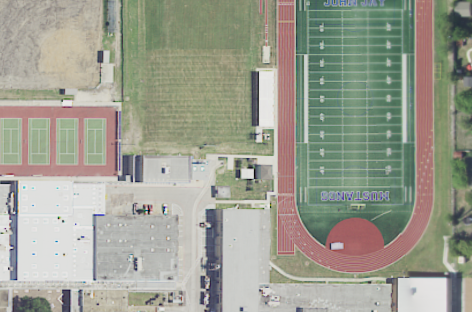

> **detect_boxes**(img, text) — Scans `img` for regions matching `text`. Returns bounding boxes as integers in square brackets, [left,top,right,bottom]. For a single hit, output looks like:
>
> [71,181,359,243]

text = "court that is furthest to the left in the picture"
[0,118,22,164]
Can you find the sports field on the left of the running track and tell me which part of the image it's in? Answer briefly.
top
